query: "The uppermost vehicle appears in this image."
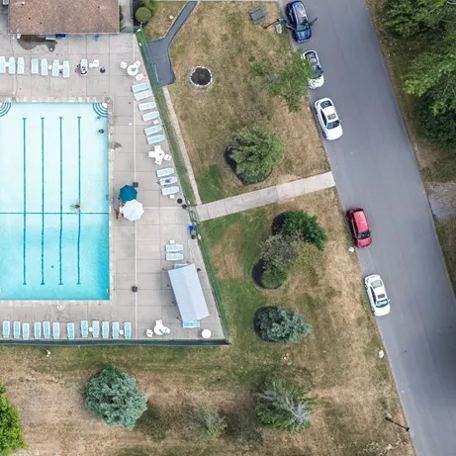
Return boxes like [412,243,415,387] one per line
[281,0,315,41]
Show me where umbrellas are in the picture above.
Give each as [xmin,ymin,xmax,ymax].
[120,199,143,221]
[118,183,137,201]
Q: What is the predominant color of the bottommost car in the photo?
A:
white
